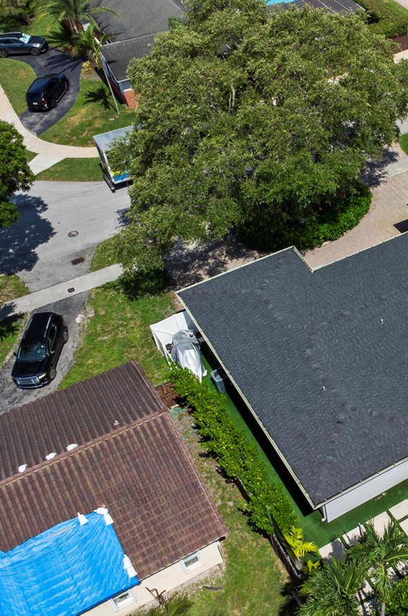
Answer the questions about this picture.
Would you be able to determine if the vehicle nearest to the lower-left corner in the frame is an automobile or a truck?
automobile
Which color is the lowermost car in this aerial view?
black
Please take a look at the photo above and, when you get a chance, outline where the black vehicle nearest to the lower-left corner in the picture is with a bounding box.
[3,313,68,396]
